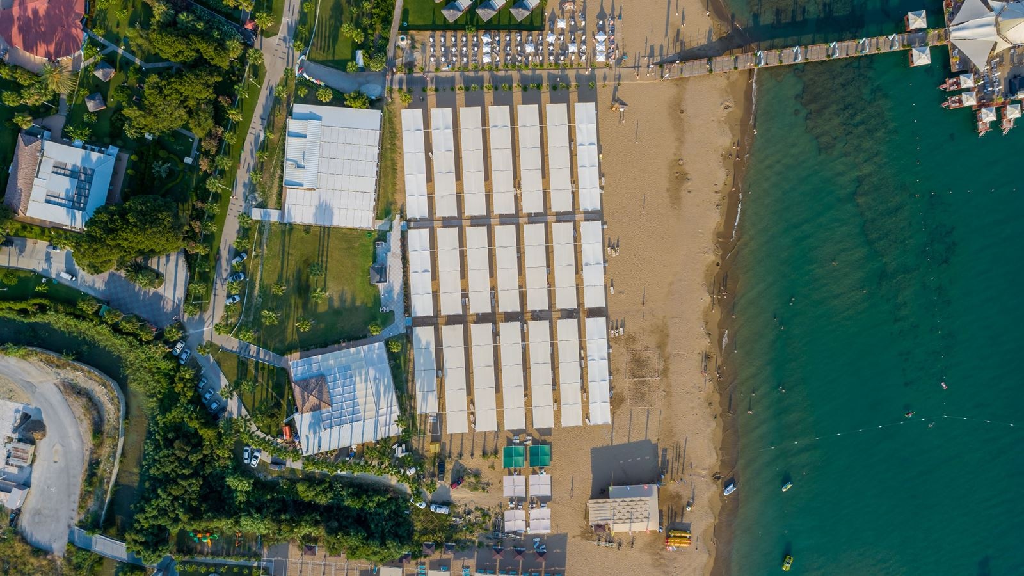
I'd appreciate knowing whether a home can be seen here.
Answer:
Yes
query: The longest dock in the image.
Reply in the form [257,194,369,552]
[655,28,948,80]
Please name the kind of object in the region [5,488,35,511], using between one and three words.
shed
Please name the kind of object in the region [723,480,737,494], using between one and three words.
boat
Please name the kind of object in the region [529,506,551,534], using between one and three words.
tent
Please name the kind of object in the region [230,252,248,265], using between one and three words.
vehicle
